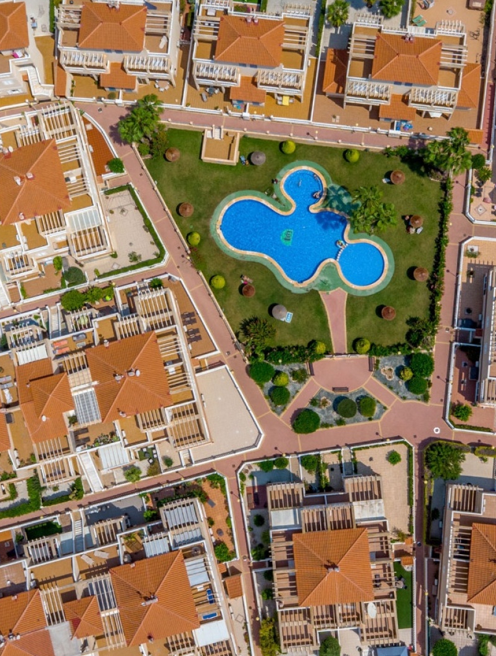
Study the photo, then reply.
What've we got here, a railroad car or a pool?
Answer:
pool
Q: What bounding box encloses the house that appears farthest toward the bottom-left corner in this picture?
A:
[0,497,243,656]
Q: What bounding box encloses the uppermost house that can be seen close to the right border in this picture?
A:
[323,13,482,125]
